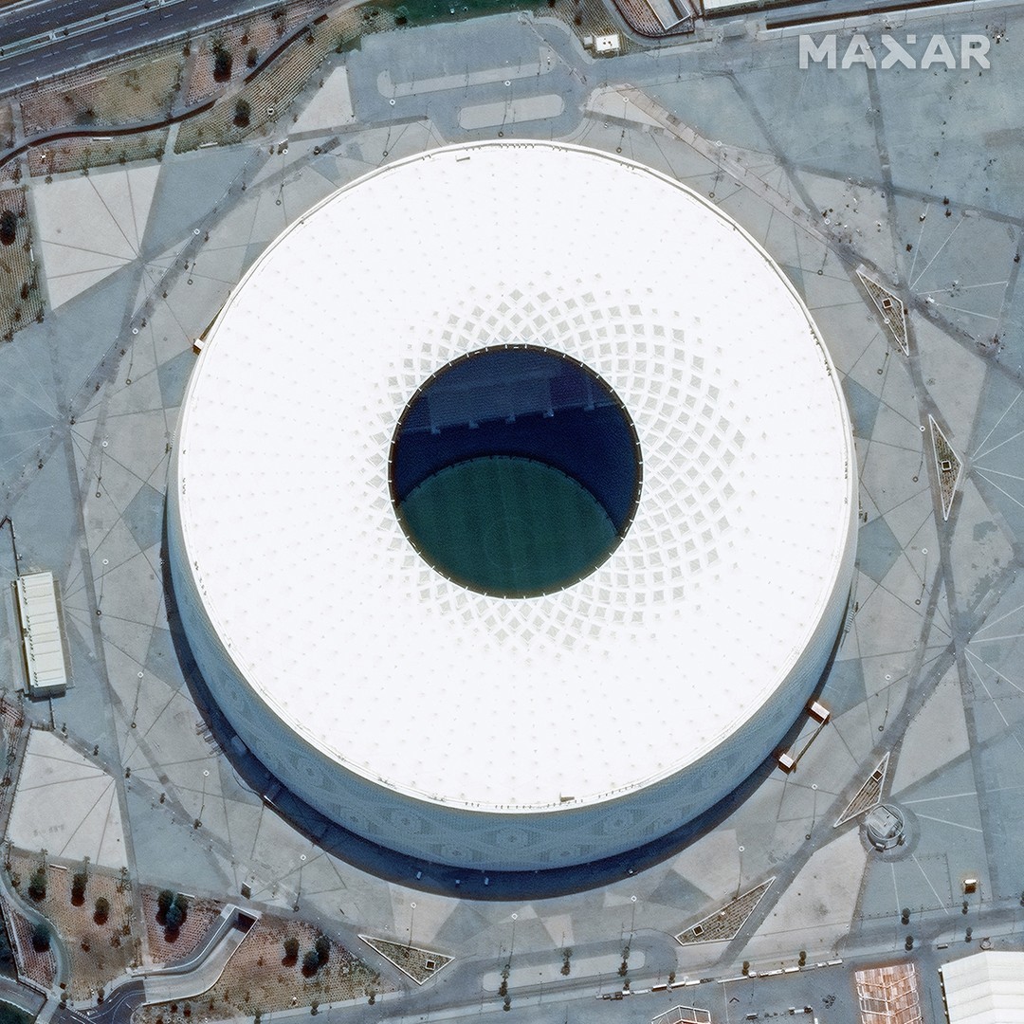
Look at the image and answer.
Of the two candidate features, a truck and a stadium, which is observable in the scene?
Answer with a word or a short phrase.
stadium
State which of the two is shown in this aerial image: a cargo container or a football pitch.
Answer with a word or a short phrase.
football pitch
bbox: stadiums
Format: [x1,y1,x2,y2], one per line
[167,139,859,870]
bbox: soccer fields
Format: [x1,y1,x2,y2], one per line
[394,429,637,594]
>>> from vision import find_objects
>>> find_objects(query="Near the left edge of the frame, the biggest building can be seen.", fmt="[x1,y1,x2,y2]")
[17,571,66,696]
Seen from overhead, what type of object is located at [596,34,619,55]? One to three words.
building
